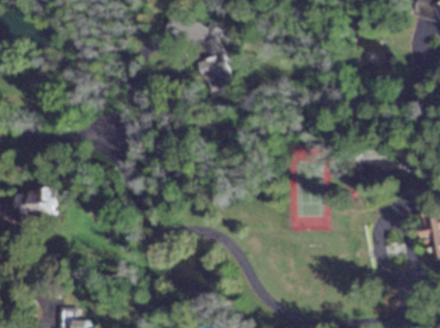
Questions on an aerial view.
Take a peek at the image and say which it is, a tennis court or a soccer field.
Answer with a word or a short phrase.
tennis court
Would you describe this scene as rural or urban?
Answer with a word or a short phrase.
rural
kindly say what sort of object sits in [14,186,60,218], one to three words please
house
